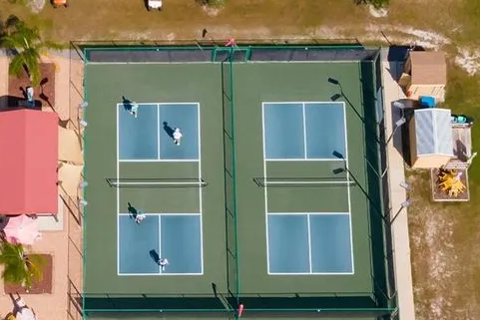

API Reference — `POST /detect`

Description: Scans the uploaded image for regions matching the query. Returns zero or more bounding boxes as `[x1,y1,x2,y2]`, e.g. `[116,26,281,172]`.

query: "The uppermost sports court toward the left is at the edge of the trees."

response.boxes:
[84,60,237,312]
